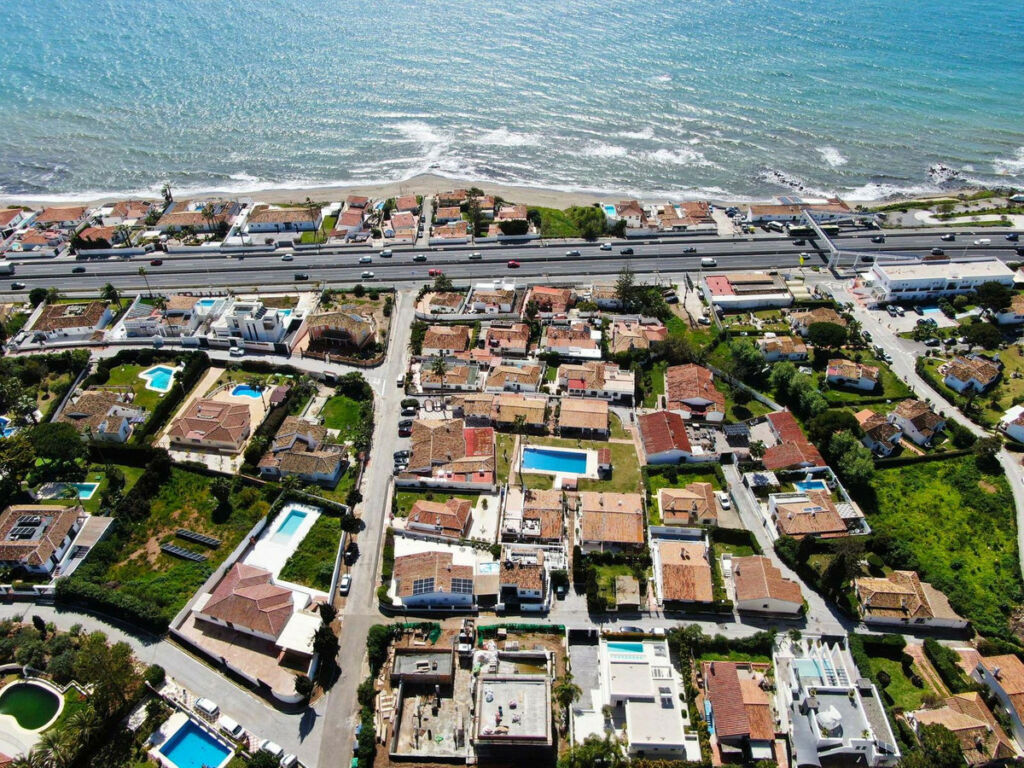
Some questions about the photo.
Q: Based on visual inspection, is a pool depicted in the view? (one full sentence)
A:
Yes, looking at the shot, I can spot a pool.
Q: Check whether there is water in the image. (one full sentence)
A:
Yes, there's water in this view.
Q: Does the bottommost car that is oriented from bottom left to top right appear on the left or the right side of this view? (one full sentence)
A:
You can find the bottommost car that is oriented from bottom left to top right on the left side of the picture.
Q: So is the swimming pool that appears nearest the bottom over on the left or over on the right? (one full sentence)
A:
The swimming pool that appears nearest the bottom sits on the left side.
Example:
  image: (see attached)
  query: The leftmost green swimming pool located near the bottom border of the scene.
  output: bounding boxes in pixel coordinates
[0,679,66,733]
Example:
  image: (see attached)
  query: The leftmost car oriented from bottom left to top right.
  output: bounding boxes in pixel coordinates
[276,747,300,768]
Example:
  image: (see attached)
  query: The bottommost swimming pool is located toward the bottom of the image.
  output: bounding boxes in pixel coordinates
[154,717,235,768]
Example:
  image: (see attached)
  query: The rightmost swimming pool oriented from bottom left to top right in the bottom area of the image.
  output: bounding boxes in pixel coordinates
[270,509,309,546]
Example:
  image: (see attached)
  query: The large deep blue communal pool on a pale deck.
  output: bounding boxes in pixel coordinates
[519,446,590,477]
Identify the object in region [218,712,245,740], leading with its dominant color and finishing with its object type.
white vehicle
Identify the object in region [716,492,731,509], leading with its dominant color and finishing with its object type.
white car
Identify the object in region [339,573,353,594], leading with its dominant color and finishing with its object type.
white car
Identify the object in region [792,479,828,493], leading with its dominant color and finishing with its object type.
blue swimming pool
